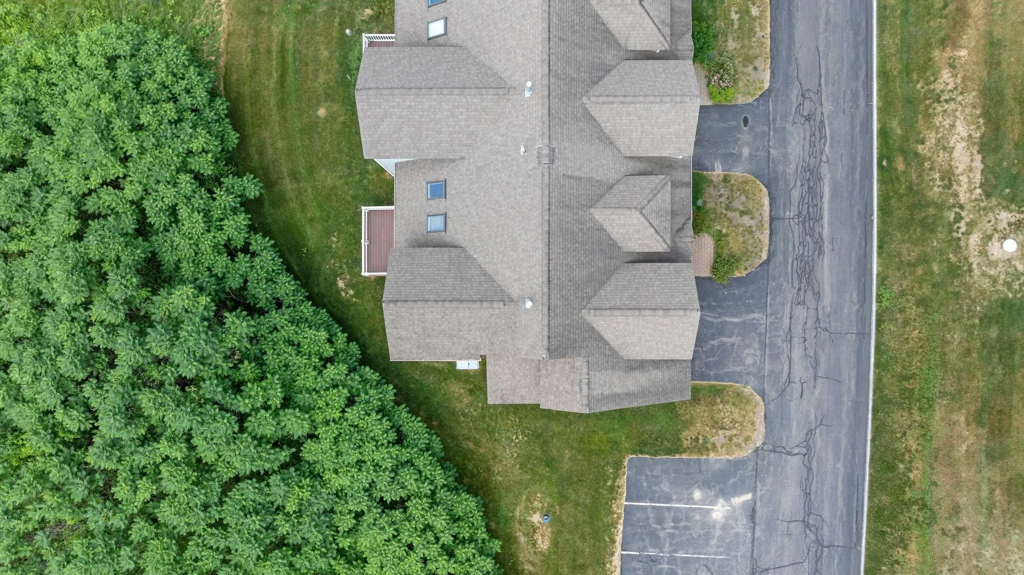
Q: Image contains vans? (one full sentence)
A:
No, there is no van in the image.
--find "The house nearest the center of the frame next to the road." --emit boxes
[355,0,703,413]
